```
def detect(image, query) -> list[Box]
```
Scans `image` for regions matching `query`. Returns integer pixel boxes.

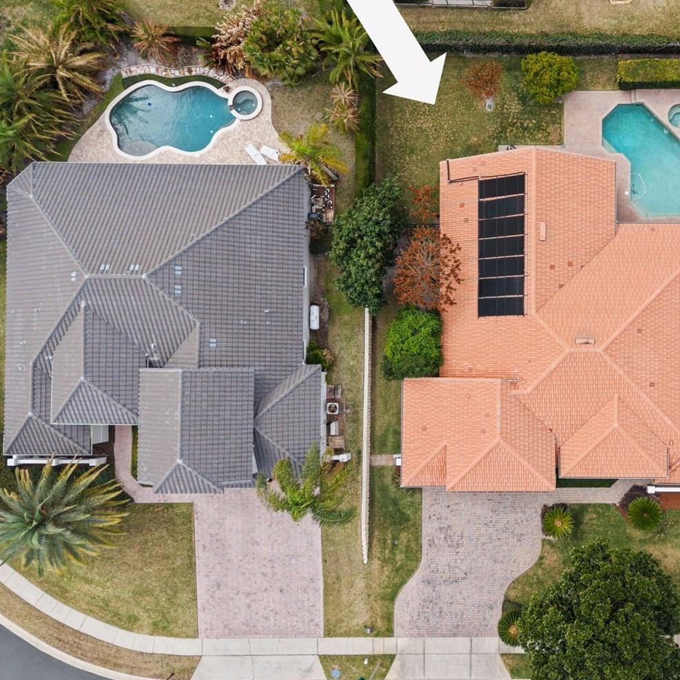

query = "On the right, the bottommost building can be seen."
[398,146,680,494]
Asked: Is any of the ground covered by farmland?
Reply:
No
